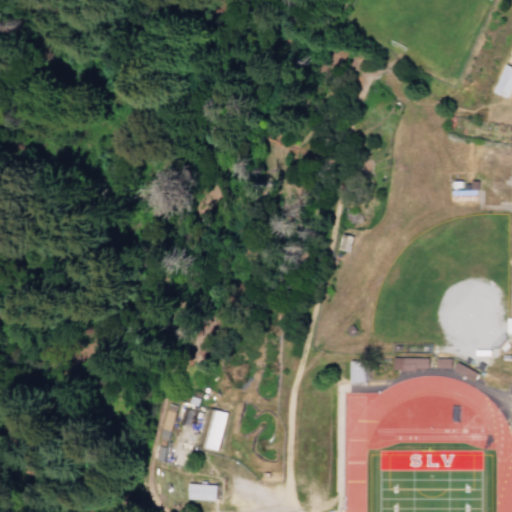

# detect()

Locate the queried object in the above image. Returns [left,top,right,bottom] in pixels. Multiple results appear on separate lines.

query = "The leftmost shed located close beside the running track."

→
[351,361,367,384]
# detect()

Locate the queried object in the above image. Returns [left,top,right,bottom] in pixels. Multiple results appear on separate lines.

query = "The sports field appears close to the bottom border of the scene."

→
[369,442,496,512]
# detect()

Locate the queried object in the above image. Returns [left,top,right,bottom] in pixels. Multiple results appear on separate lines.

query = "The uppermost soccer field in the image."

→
[354,0,497,82]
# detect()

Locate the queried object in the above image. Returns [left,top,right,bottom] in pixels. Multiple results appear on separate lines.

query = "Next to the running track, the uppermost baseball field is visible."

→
[375,214,510,358]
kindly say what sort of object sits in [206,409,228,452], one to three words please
building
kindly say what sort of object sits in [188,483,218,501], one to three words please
building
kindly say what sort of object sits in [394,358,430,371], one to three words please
shed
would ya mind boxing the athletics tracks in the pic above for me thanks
[346,376,512,512]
